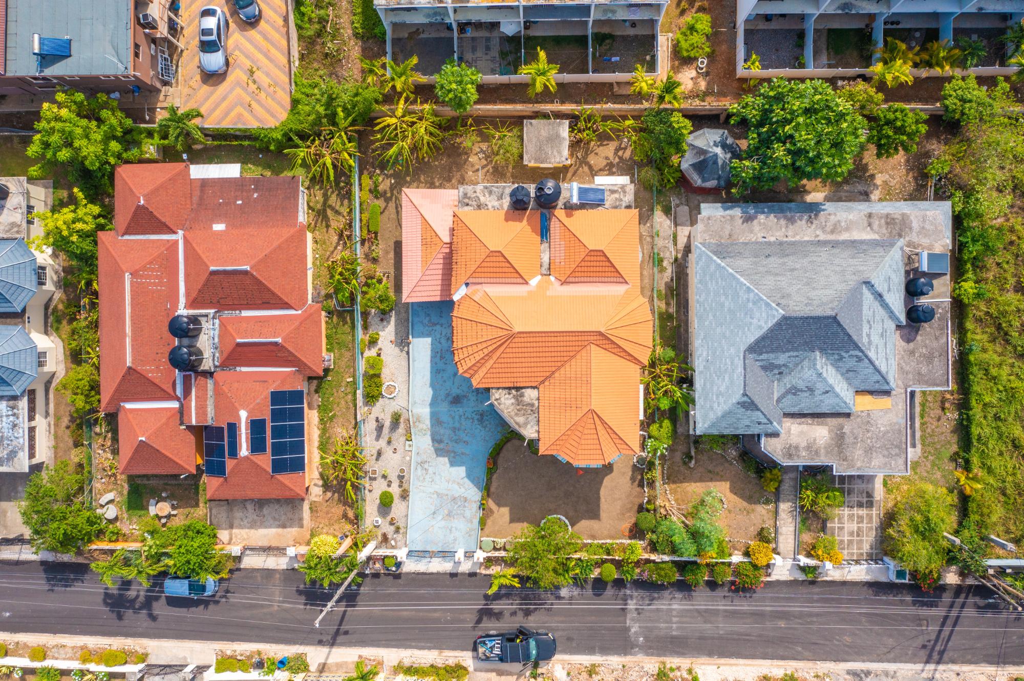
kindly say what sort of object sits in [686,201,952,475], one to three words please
house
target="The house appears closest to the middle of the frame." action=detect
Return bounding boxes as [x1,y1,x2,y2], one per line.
[402,185,654,467]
